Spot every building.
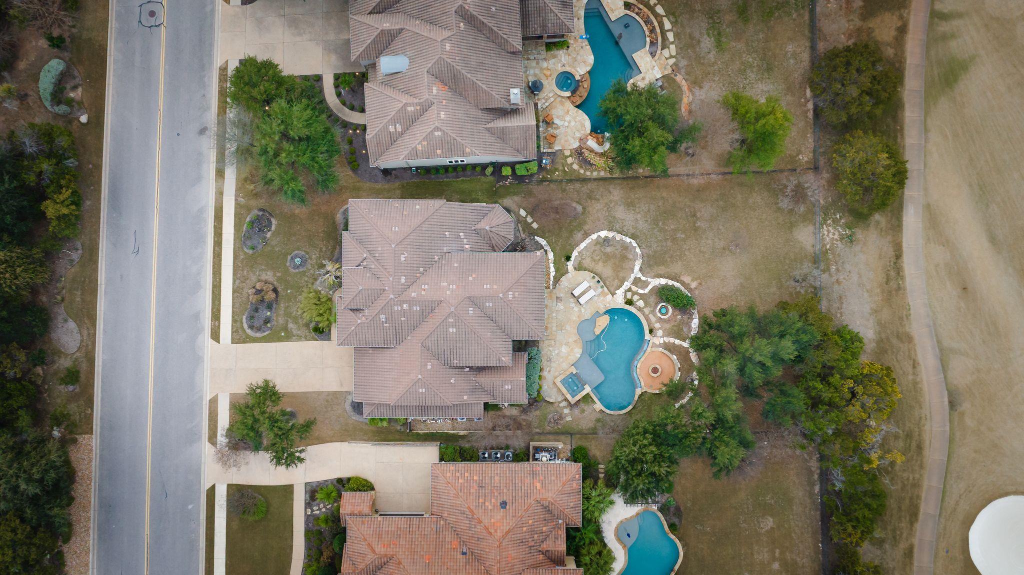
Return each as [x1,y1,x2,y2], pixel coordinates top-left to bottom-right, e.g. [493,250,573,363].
[340,460,584,575]
[335,198,546,420]
[348,0,577,169]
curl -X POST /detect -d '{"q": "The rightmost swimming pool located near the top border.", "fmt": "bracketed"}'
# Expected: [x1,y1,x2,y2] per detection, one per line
[578,0,647,134]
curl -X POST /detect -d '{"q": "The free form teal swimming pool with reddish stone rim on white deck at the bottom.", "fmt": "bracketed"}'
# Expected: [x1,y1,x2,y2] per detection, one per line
[615,509,683,575]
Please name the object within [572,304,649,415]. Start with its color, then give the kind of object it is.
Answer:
blue swimming pool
